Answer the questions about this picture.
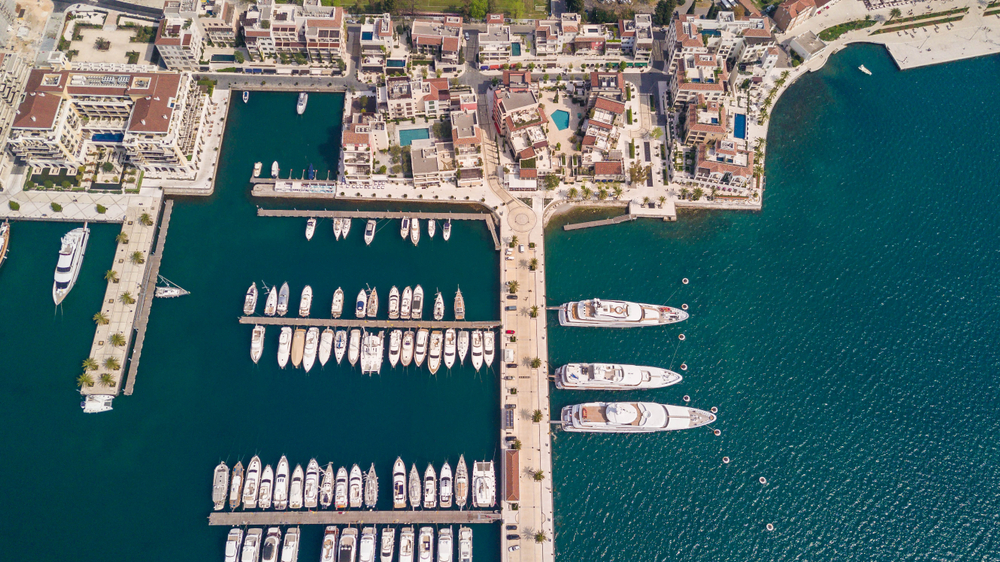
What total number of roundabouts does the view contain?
0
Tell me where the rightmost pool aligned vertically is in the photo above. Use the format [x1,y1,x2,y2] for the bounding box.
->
[731,112,748,140]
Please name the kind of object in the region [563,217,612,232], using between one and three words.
pier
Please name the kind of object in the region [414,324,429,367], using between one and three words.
boat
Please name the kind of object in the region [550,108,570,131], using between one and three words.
swimming pool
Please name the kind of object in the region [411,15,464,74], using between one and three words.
building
